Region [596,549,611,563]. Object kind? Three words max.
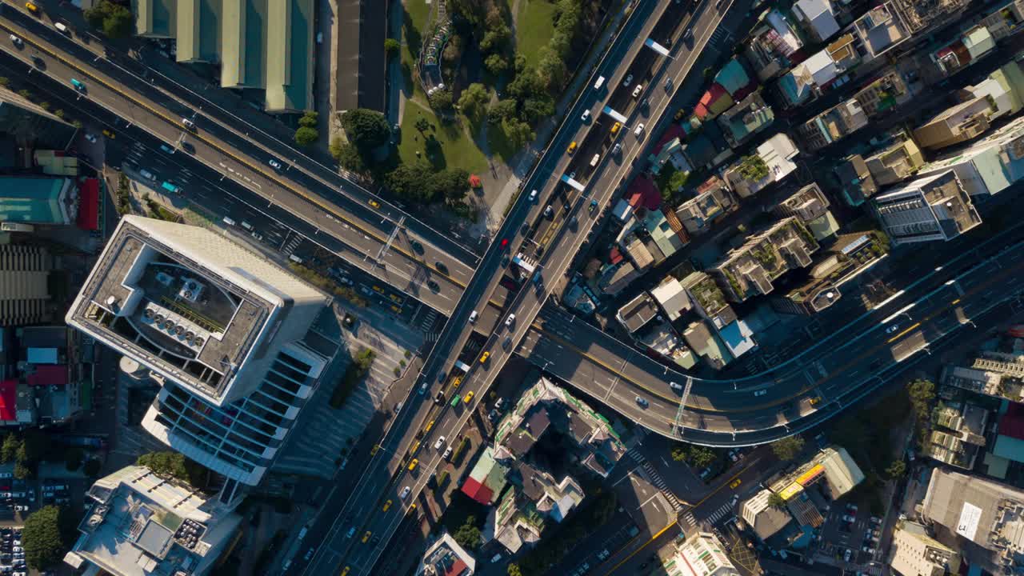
vehicle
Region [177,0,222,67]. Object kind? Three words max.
shed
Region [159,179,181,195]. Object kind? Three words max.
vehicle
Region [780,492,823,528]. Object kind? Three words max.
building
